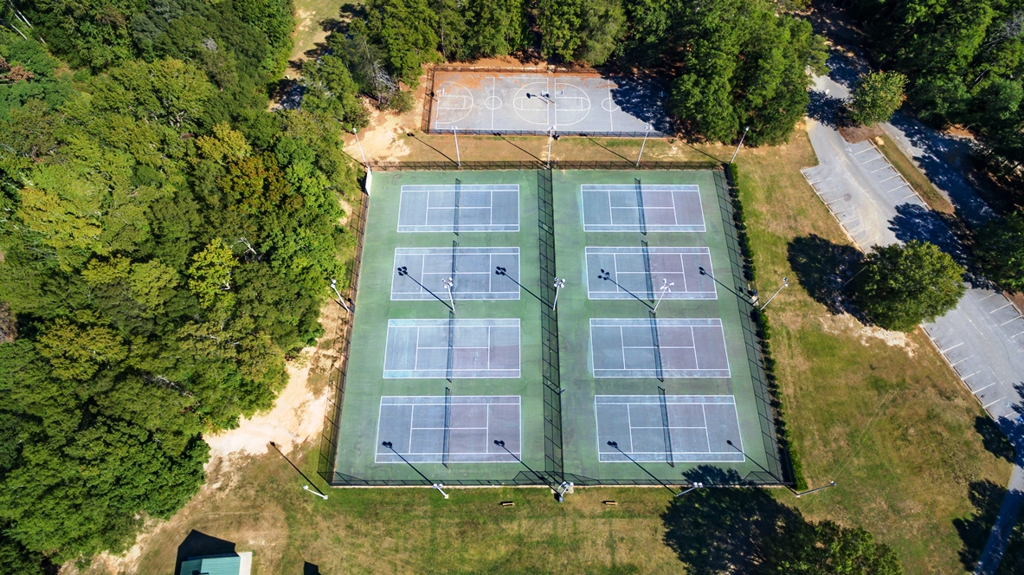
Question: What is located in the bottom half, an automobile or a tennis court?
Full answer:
The one visible in the bottom half is a tennis court.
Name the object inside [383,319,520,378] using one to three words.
tennis court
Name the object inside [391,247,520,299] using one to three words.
tennis court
